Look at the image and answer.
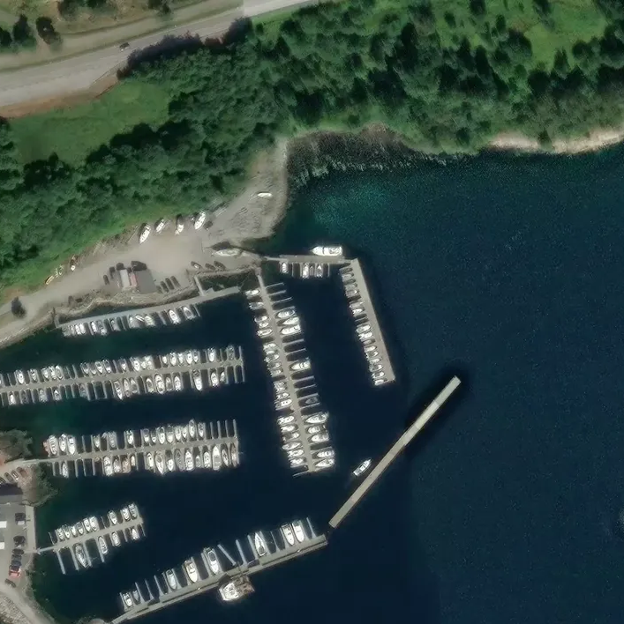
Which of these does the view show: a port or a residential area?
port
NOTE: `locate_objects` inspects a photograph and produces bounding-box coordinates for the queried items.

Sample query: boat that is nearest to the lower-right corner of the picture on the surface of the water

[352,461,371,476]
